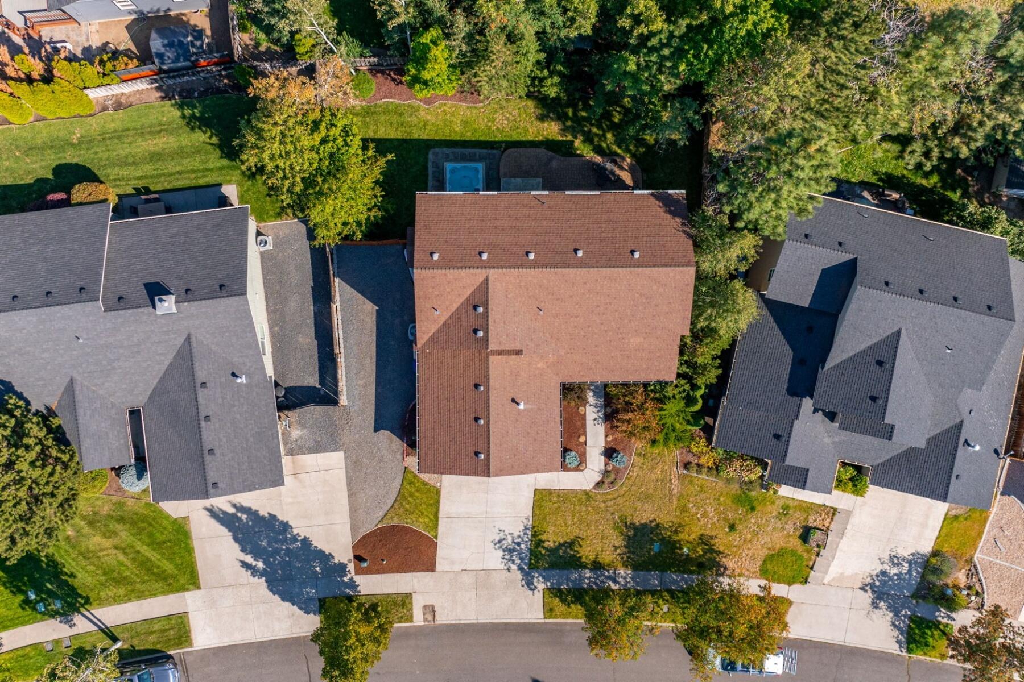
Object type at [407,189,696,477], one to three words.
house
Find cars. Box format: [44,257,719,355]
[103,652,184,682]
[706,642,796,682]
